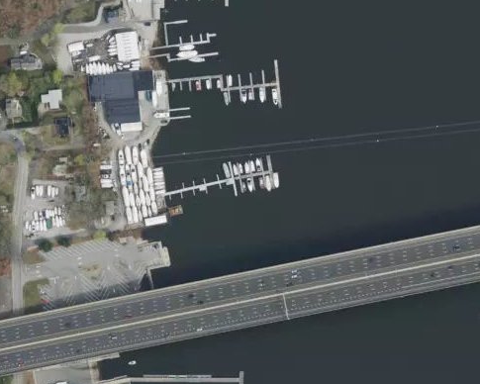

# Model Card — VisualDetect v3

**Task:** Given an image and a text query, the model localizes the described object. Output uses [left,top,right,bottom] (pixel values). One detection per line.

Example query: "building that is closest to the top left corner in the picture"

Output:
[10,51,43,70]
